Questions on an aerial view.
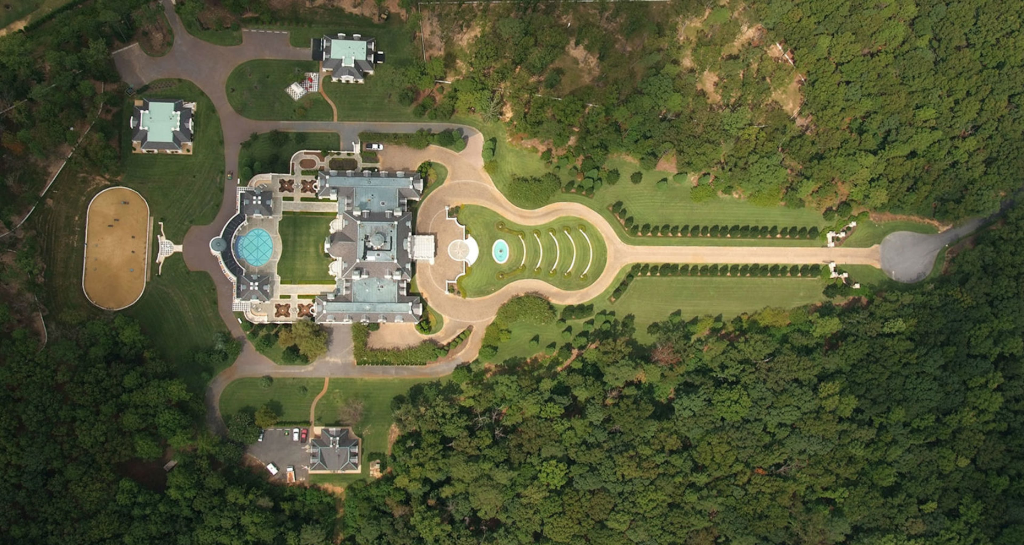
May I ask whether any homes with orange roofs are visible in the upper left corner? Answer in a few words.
No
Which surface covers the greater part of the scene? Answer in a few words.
trees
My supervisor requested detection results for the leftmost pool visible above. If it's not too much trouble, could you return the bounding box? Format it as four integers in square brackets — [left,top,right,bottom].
[235,227,273,267]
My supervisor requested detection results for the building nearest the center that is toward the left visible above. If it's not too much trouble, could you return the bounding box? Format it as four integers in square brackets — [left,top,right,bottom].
[309,171,436,325]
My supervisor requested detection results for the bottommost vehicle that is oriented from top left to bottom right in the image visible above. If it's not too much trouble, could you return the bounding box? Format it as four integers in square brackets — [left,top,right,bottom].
[266,461,279,477]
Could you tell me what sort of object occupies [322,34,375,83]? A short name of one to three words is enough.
house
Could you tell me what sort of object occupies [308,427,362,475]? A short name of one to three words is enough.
house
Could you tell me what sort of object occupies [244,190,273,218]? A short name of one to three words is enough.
building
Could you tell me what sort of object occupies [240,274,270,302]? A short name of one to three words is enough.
building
